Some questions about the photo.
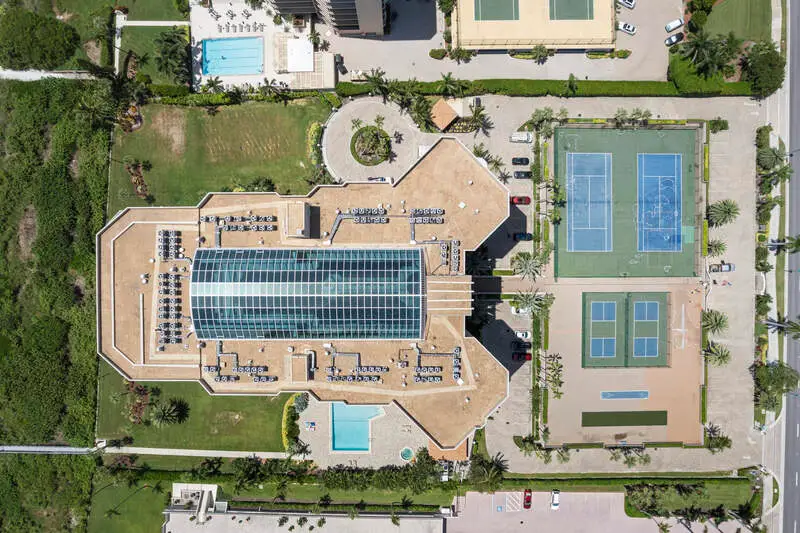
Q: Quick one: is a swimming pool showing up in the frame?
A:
Yes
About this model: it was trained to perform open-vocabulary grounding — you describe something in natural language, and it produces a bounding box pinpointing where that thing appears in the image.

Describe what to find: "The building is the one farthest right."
[452,0,616,53]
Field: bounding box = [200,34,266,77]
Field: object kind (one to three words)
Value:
swimming pool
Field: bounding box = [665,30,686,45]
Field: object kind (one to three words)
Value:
car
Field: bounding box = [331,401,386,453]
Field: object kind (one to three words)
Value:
swimming pool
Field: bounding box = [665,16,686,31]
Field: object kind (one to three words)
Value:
car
